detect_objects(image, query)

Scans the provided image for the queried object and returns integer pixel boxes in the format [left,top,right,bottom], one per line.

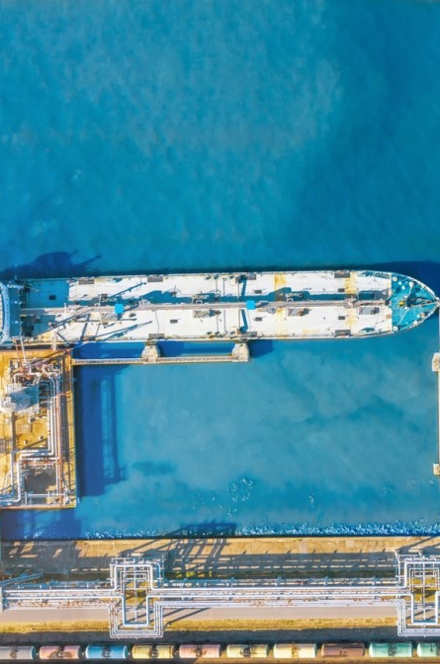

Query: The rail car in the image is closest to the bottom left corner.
[0,644,42,661]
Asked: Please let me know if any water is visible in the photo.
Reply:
Yes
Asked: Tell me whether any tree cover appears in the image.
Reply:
No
